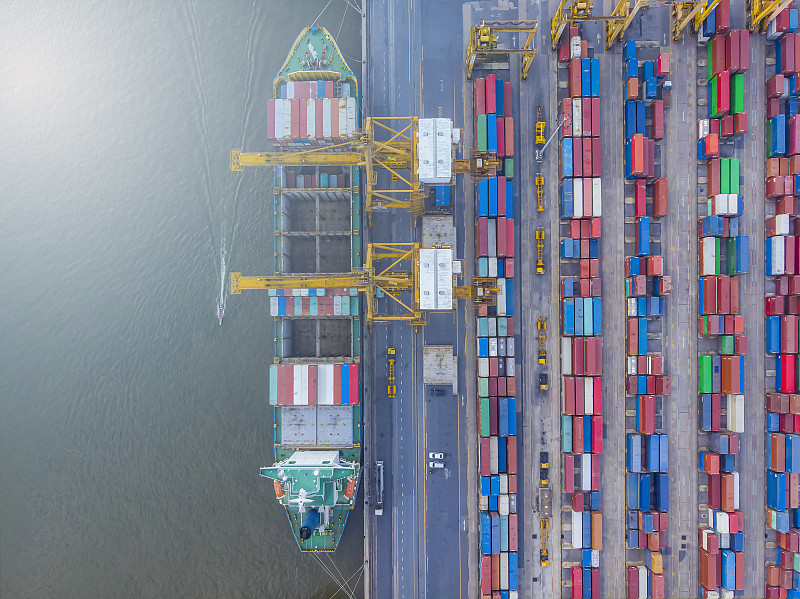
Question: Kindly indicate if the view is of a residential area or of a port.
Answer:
port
